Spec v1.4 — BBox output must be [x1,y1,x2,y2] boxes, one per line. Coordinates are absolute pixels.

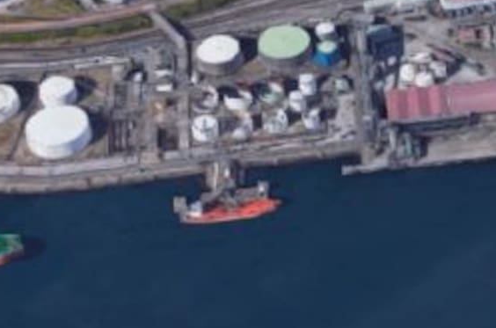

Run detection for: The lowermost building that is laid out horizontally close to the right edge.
[399,113,473,134]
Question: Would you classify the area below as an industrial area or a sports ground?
industrial area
